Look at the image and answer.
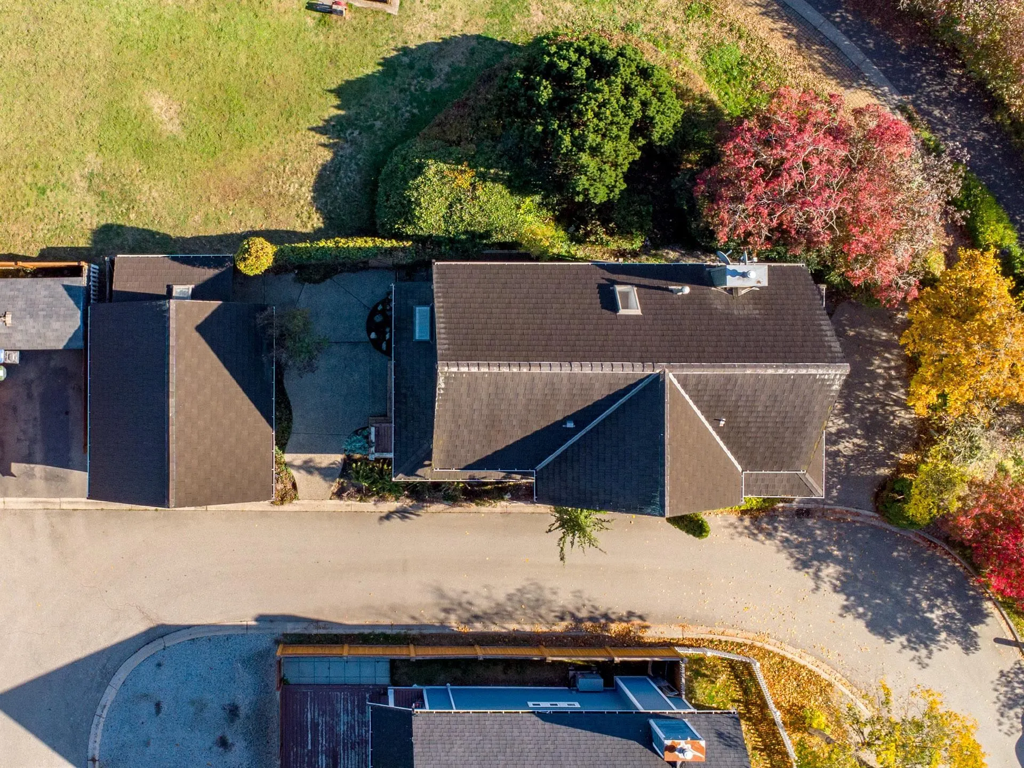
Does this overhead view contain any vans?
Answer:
No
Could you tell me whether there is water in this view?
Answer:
No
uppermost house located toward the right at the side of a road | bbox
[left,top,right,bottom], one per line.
[390,260,851,514]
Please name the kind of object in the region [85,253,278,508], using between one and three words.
building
